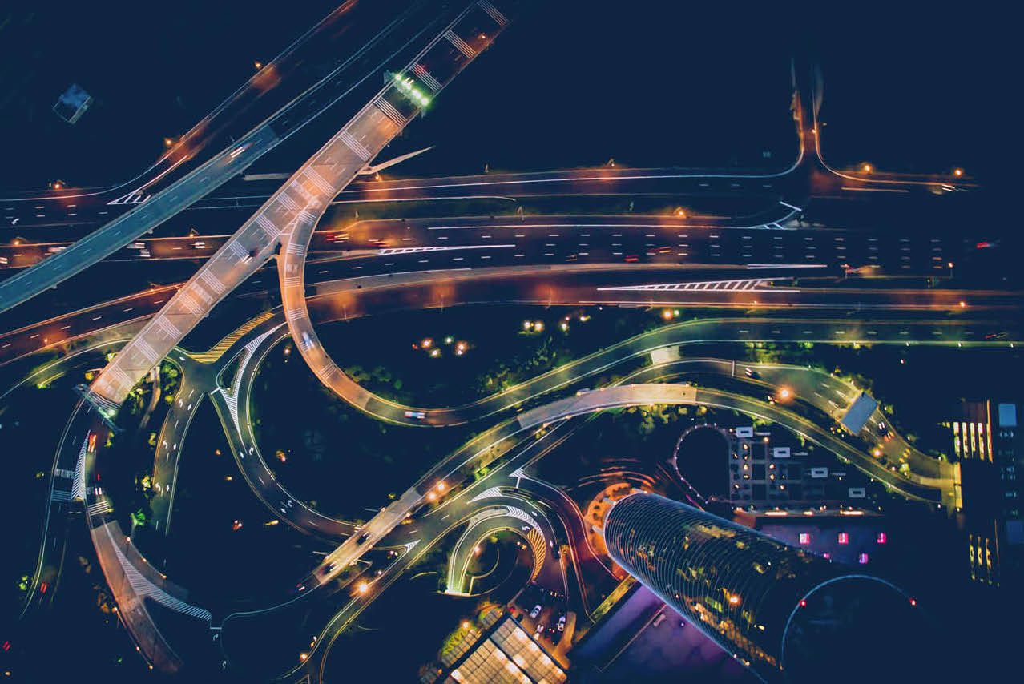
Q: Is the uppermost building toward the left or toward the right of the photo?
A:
left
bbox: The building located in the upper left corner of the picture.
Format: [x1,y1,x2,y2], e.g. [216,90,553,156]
[53,83,95,126]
